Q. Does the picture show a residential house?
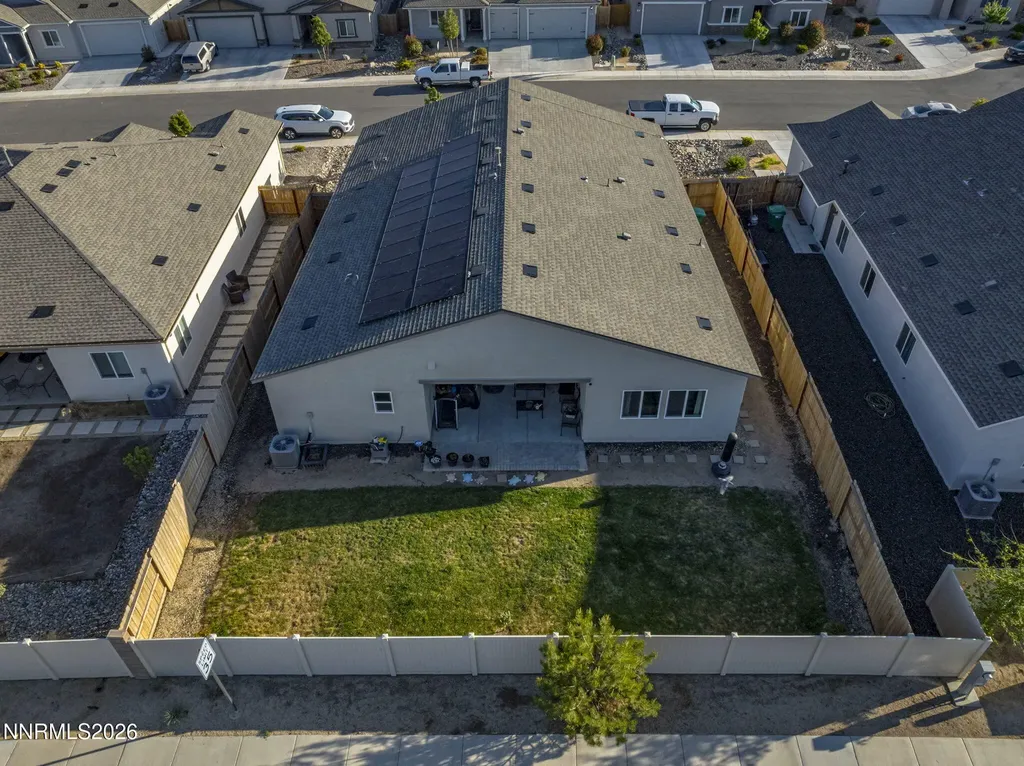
Yes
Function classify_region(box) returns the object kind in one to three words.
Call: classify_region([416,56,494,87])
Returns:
truck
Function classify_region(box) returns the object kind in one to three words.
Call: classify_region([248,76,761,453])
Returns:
house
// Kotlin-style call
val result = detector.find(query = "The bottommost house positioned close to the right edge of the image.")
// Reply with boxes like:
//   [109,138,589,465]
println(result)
[790,91,1024,493]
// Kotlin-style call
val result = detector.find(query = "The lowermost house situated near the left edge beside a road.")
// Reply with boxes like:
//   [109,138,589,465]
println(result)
[0,107,288,401]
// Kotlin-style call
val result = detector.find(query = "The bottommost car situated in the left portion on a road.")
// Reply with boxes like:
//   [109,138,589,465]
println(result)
[274,99,354,138]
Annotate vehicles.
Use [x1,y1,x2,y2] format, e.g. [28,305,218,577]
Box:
[893,101,961,120]
[274,99,354,138]
[624,92,721,130]
[1006,38,1024,59]
[416,56,494,87]
[179,37,220,68]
